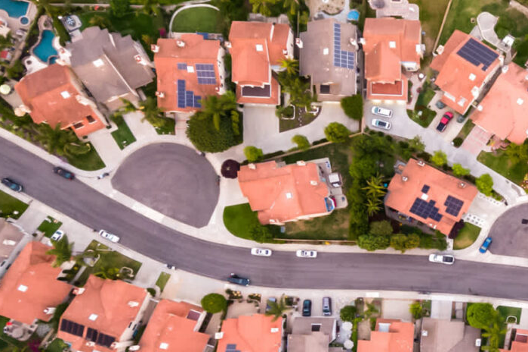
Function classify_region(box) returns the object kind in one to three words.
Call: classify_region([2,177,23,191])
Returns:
vehicle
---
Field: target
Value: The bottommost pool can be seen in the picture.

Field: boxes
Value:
[31,28,60,66]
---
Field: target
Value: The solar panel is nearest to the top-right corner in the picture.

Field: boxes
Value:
[458,38,498,71]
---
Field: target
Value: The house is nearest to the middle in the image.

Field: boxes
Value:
[237,157,332,225]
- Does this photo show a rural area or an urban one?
urban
